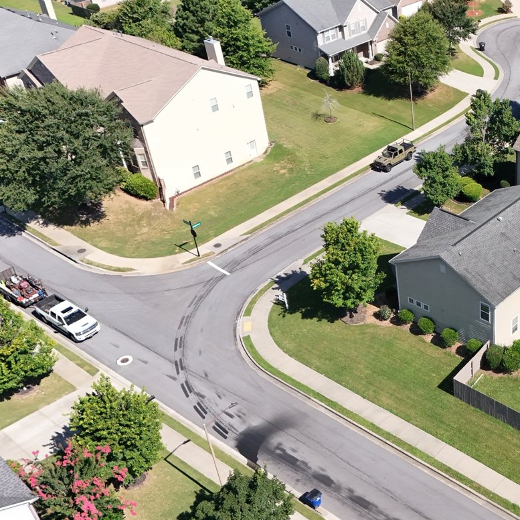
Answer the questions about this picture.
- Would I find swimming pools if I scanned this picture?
No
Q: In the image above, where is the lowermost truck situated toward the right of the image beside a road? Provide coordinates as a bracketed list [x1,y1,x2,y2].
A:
[371,140,415,172]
